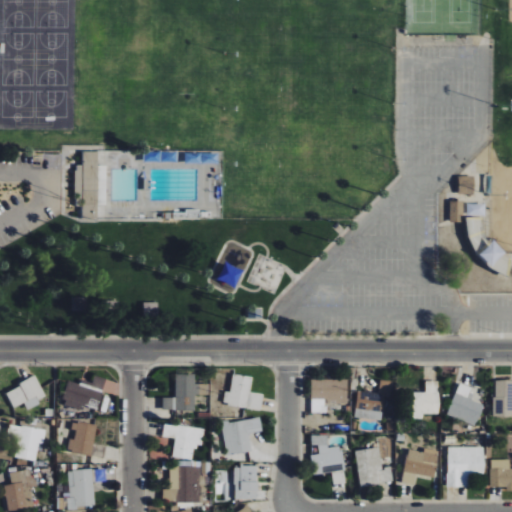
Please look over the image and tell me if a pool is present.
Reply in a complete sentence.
Yes, a pool is visible in the scene.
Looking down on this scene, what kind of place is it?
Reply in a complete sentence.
This looks like a sports ground.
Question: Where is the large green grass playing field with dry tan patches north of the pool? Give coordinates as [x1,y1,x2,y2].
[62,0,404,224]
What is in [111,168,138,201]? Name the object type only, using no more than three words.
swimming pool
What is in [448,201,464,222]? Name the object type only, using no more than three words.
shed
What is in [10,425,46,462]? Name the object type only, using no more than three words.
house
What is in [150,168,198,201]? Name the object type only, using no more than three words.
swimming pool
